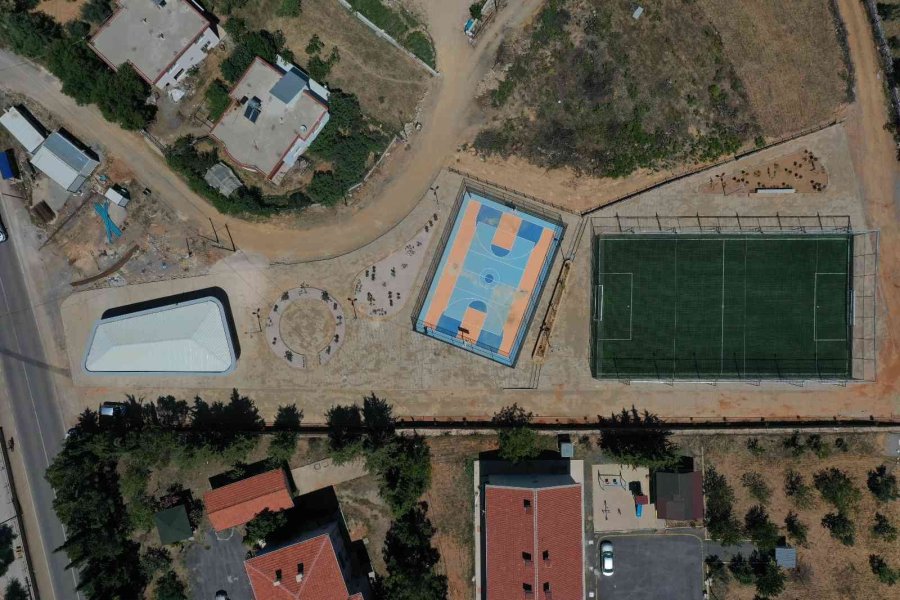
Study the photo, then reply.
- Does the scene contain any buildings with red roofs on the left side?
Yes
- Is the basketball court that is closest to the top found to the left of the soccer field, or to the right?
left of it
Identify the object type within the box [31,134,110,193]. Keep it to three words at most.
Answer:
shed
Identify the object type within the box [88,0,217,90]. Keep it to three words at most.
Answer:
house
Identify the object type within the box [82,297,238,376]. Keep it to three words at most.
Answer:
building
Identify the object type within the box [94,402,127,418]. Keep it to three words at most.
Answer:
car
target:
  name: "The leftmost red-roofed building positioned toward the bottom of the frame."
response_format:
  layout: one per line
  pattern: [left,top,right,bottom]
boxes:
[204,466,295,531]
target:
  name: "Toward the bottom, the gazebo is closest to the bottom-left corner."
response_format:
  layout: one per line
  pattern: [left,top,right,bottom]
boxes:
[155,501,199,544]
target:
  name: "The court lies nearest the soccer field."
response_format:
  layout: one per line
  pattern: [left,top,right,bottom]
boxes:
[414,189,564,366]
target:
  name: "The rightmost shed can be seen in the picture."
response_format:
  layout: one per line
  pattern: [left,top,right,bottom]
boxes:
[768,542,797,567]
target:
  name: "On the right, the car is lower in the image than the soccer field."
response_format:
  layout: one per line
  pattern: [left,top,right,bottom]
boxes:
[600,543,616,578]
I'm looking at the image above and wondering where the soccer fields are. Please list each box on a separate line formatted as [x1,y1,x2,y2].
[590,228,854,384]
